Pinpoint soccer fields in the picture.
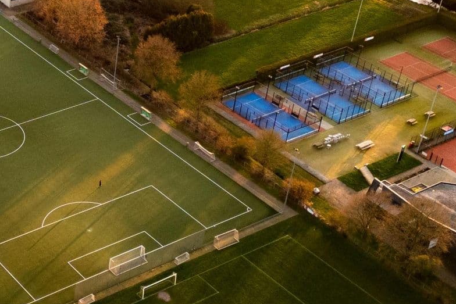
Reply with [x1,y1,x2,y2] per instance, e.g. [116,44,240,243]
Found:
[121,229,391,304]
[0,12,279,304]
